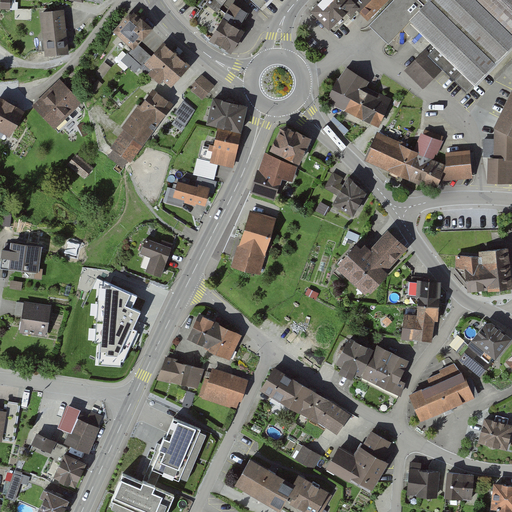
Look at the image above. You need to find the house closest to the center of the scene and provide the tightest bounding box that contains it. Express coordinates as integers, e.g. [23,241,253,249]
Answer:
[230,210,276,276]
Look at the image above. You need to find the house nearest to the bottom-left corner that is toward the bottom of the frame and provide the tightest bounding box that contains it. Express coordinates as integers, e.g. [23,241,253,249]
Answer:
[2,474,30,502]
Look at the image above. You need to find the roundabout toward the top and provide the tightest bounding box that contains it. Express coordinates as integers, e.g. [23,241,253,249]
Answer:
[242,46,314,118]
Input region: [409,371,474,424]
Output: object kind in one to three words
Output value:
barn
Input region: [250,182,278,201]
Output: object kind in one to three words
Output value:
building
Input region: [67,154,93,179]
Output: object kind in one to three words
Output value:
shed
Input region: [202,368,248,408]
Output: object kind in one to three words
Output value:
house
